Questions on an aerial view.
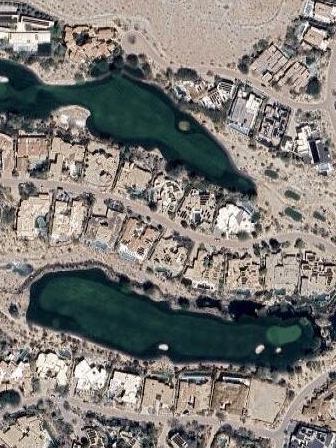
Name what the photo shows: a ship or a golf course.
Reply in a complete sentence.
The one in the frame is a golf course.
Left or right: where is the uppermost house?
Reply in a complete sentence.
You can find the uppermost house on the right side of the picture.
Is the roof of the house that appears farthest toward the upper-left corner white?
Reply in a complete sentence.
Yes, the roof of the house that appears farthest toward the upper-left corner appears white.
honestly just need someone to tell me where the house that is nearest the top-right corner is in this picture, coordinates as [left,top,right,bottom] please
[305,0,336,20]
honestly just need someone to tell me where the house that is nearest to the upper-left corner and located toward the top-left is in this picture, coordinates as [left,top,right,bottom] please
[0,6,54,51]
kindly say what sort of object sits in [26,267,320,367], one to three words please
golf course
